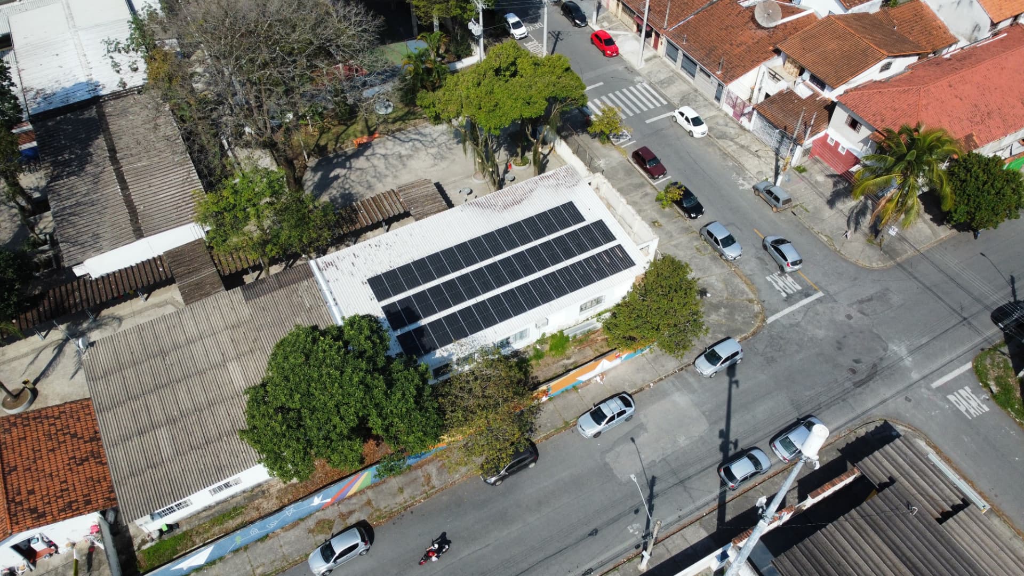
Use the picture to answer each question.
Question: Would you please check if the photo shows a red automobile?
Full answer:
Yes, a red automobile is visible in the scene.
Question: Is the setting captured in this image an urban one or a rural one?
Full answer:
The land in this view is best described as urban.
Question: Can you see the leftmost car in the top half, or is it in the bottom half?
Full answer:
Seen from above, the leftmost car lies in the bottom half of the view.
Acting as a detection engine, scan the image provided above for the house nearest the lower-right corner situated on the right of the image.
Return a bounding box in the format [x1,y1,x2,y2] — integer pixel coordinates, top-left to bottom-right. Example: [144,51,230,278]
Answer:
[771,427,1024,576]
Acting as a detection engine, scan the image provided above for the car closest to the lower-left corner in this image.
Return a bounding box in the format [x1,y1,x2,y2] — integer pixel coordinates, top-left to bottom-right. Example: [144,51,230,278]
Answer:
[307,523,377,576]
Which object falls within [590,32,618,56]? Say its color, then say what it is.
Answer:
red car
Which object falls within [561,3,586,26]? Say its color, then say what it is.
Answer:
black car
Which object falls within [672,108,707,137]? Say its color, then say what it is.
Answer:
white car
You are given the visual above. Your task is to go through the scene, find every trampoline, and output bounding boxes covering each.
[373,101,395,116]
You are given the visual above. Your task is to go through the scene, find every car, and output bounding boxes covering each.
[631,148,667,180]
[577,394,636,438]
[480,442,541,489]
[693,340,745,379]
[502,12,529,38]
[990,298,1024,334]
[699,225,741,261]
[572,96,595,118]
[709,453,771,496]
[672,108,707,137]
[561,3,586,26]
[590,32,618,56]
[757,238,807,274]
[770,420,809,461]
[307,523,377,576]
[671,187,705,221]
[750,182,795,214]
